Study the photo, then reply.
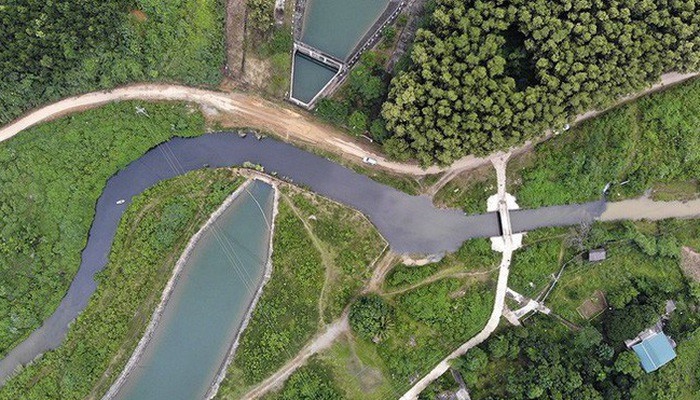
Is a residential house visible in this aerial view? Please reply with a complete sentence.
Yes, the image includes a residential house.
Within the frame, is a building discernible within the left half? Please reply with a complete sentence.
No, within the left half there is no building.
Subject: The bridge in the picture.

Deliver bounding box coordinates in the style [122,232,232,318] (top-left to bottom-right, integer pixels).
[485,191,522,255]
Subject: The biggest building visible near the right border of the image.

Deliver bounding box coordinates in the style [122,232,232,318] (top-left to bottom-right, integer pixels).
[621,320,676,372]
